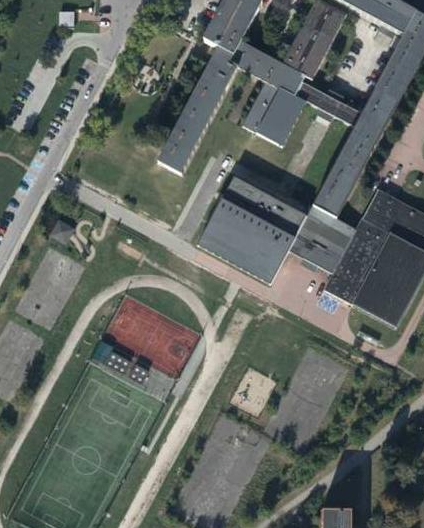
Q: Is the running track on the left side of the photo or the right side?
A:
left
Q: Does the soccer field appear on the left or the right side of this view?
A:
left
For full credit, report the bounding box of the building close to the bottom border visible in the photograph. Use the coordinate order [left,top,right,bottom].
[320,508,353,528]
